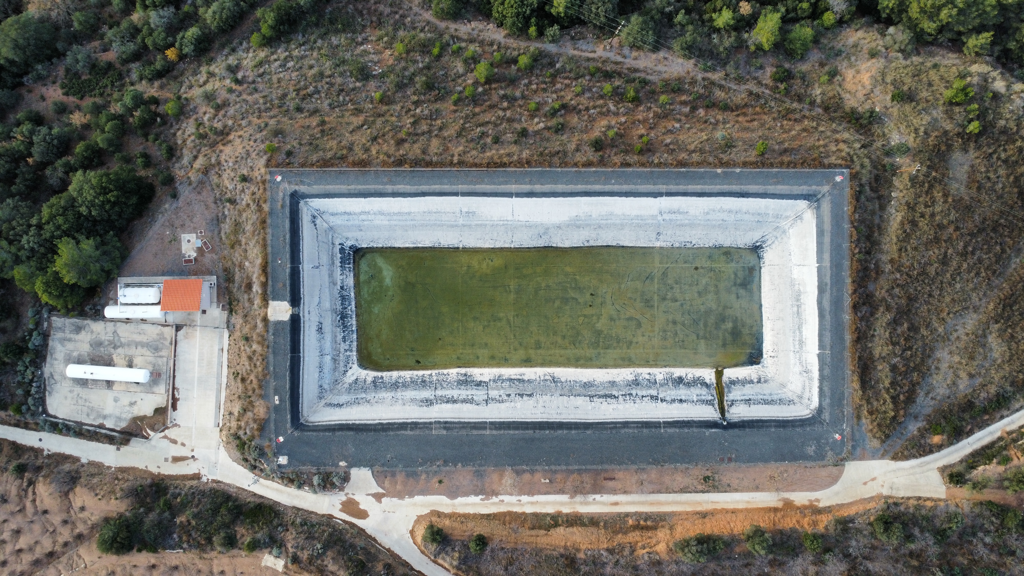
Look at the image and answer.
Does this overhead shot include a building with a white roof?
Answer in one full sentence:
No, there is no building with a white roof in the image.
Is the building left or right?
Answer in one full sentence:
The building is on the left side of the image.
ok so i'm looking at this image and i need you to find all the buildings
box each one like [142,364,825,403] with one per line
[160,279,209,312]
